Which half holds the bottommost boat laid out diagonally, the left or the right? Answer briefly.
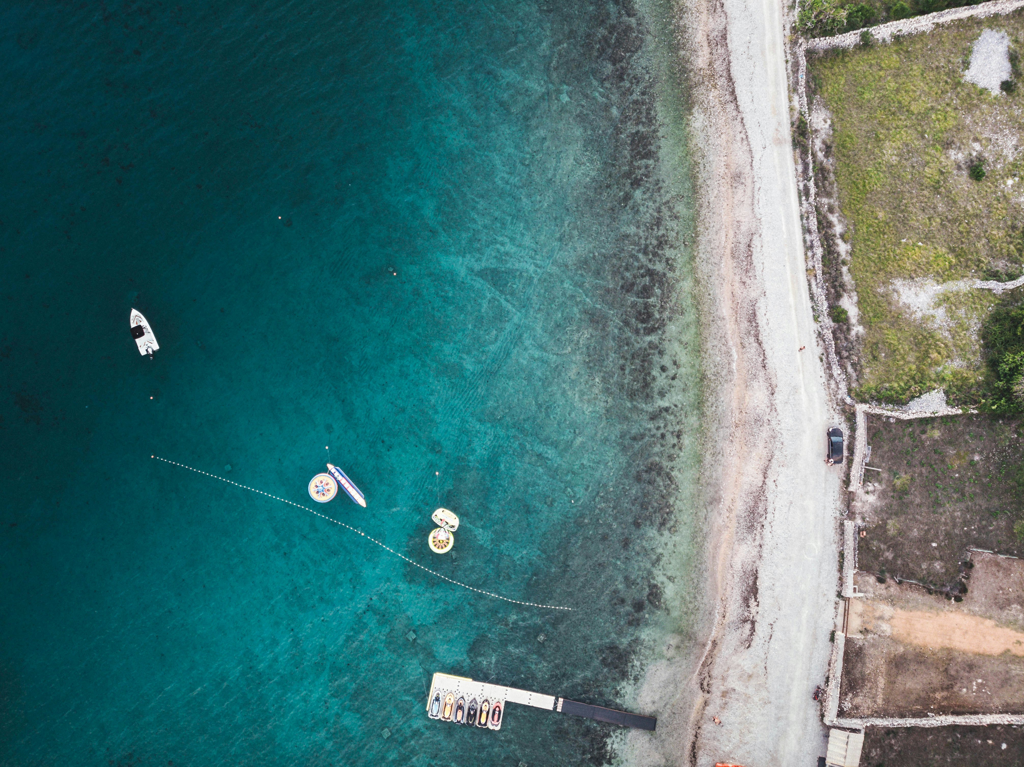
left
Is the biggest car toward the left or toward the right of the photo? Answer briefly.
right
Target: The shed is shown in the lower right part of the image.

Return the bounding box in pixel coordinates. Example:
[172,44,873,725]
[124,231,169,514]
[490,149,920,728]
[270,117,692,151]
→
[815,720,864,767]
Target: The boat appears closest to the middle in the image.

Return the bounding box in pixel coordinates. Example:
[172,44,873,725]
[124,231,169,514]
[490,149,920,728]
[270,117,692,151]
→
[327,464,367,507]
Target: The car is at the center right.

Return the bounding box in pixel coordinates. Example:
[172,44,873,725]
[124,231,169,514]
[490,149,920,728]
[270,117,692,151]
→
[826,427,846,464]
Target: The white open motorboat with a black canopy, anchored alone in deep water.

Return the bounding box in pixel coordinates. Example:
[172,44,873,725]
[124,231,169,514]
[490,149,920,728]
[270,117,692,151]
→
[129,308,160,359]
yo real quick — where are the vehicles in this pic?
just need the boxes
[826,427,846,464]
[812,684,822,703]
